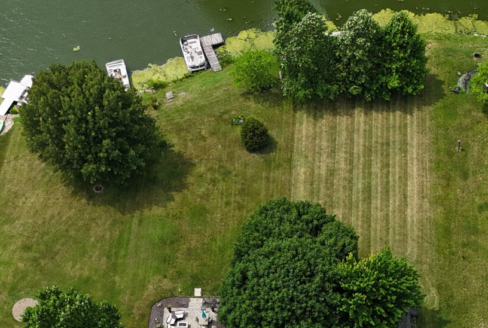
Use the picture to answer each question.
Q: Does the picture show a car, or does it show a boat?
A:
boat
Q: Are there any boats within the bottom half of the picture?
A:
No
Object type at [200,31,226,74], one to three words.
pier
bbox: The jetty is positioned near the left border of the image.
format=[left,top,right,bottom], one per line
[0,79,20,119]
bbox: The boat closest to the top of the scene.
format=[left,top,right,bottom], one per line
[179,35,208,77]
